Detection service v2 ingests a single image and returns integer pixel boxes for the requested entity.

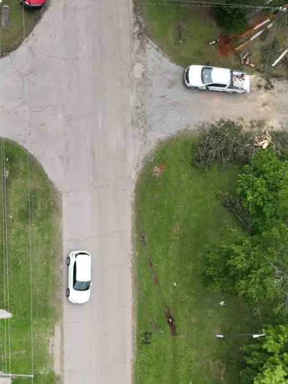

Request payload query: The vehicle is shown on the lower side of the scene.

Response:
[65,250,93,304]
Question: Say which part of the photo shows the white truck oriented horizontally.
top right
